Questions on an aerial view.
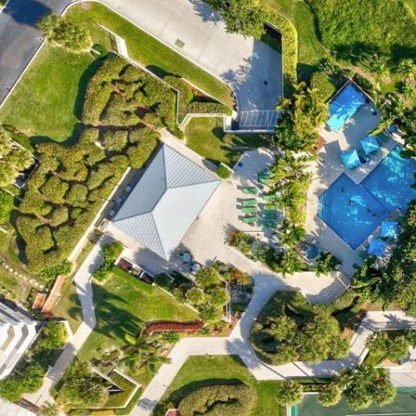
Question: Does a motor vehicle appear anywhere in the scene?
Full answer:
No, no motor vehicle is visible in the scene.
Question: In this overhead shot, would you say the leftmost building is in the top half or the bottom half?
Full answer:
The bottom half of the photo is where the leftmost building is.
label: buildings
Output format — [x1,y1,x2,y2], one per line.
[112,144,225,260]
[0,300,38,378]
